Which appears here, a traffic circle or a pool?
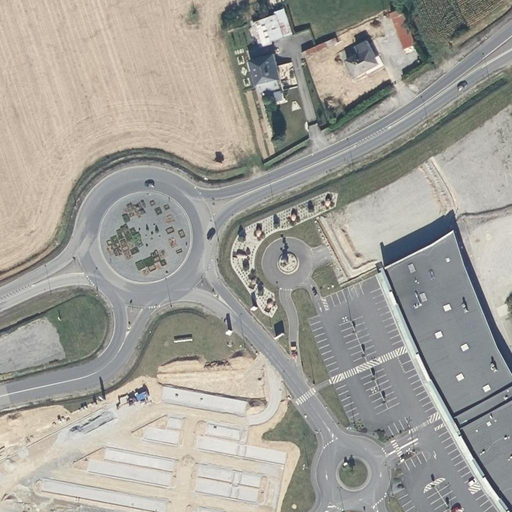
traffic circle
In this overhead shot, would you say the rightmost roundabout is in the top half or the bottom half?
bottom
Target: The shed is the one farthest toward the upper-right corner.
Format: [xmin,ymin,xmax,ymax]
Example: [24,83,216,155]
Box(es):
[390,10,414,54]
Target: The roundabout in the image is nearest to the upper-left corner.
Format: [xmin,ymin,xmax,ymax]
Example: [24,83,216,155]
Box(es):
[76,167,216,307]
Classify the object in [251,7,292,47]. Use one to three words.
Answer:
shed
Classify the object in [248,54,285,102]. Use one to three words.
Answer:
house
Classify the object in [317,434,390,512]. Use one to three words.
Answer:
roundabout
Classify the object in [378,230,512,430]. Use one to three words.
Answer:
building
